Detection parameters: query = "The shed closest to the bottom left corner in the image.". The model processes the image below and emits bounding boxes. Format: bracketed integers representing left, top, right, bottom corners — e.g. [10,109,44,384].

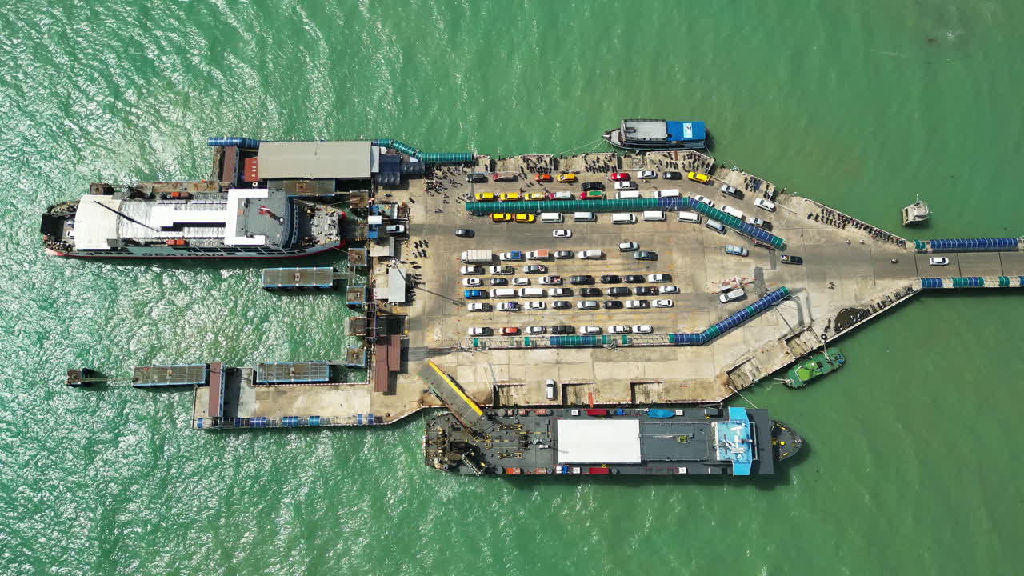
[209,362,230,417]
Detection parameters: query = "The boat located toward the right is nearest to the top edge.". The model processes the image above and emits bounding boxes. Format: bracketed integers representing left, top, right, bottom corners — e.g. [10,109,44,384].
[602,119,708,150]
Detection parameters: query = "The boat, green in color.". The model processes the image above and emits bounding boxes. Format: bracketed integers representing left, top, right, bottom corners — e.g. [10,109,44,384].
[781,345,846,391]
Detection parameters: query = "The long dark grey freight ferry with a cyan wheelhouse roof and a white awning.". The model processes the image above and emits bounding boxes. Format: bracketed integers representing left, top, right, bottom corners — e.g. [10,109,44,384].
[423,404,804,476]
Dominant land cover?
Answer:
water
